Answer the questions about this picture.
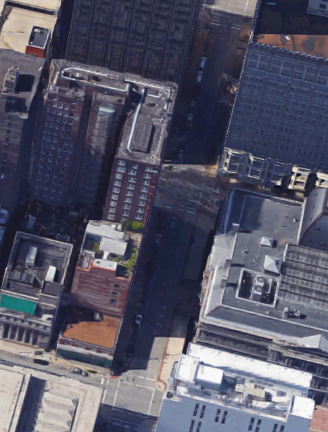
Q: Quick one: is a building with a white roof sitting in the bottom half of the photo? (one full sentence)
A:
Yes, a building with a white roof shows up in the bottom half of the photo.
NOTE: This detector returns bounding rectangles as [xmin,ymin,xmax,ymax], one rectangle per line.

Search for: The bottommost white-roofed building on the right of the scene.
[157,342,320,432]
